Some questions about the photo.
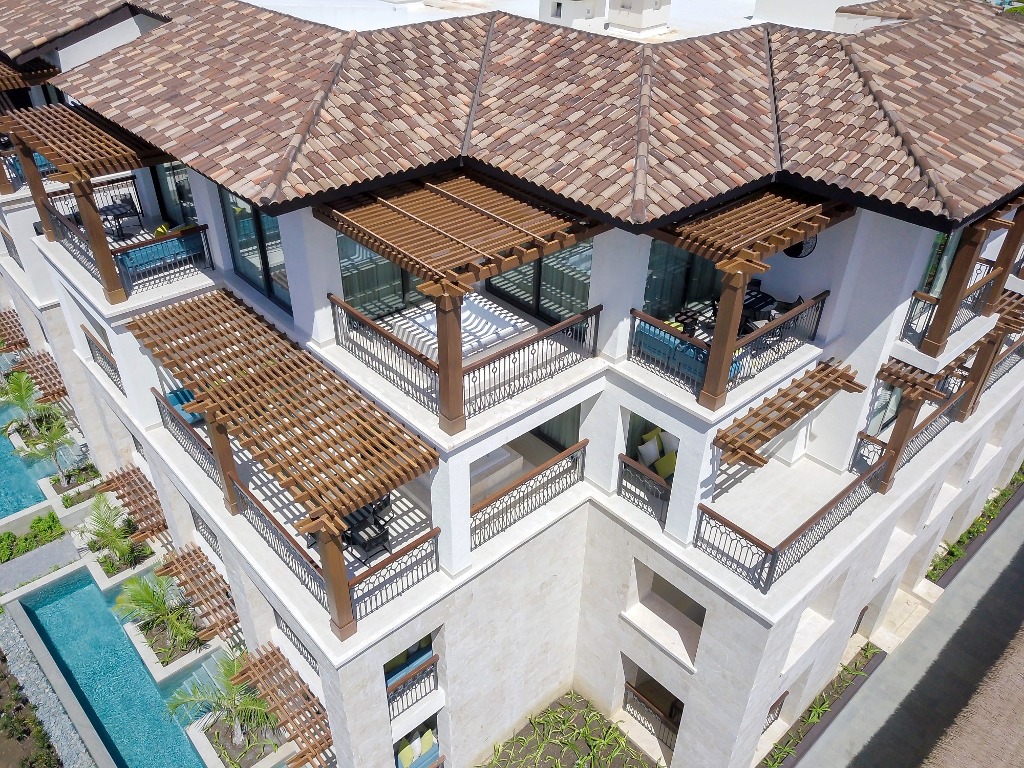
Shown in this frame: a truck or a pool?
pool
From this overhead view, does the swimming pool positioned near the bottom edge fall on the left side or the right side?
left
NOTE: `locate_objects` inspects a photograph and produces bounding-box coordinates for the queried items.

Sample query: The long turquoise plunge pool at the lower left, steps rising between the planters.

[37,568,237,768]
